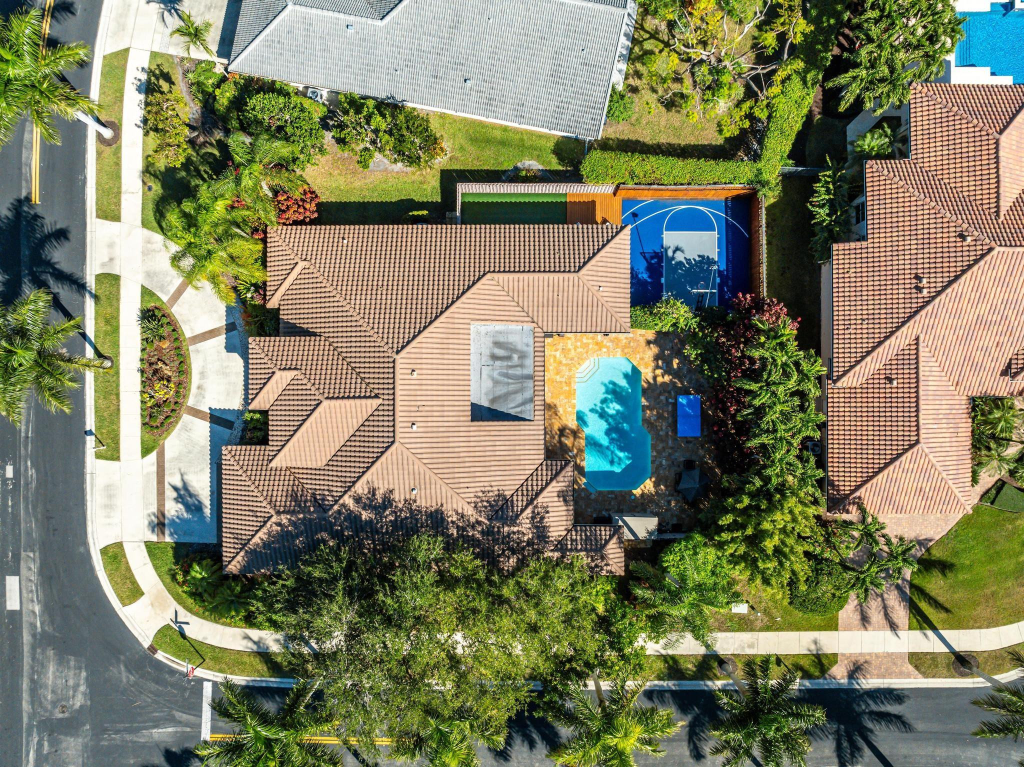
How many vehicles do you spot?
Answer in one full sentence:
There are no vehicles in this view.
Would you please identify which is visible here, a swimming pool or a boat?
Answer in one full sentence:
Visible in the photo is a swimming pool.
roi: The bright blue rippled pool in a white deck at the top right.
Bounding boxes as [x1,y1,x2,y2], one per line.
[956,12,1024,82]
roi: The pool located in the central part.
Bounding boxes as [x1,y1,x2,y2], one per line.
[571,352,656,495]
